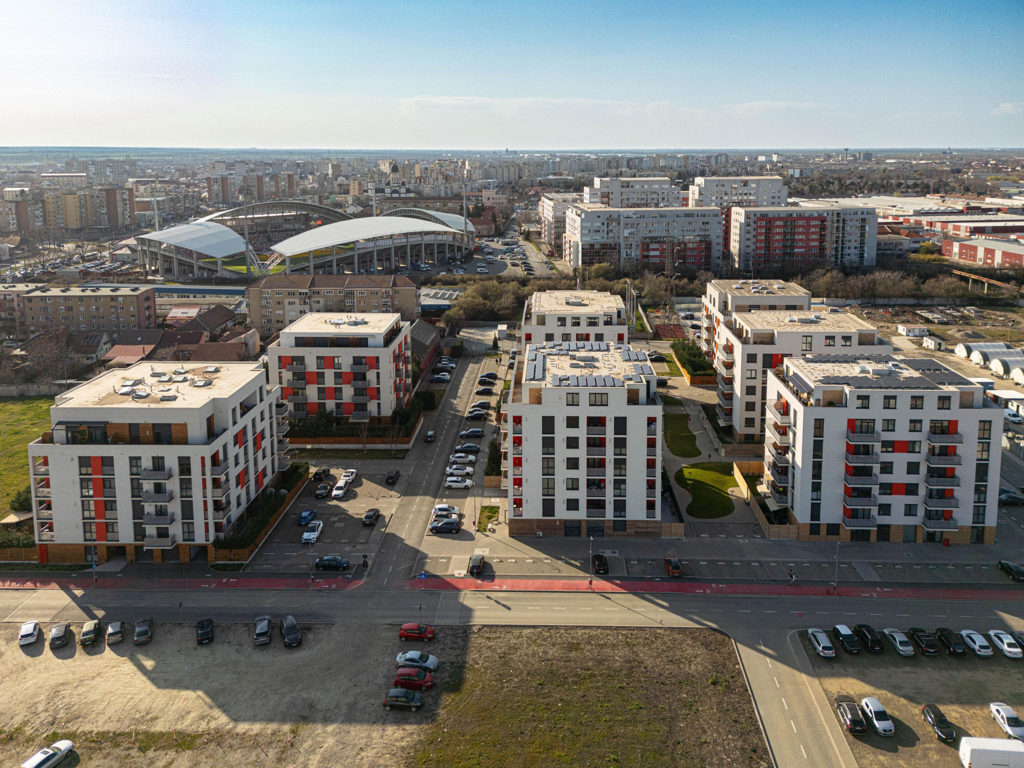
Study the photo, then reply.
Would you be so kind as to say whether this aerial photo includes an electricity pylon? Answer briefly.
Yes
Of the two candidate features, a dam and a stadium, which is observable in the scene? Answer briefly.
stadium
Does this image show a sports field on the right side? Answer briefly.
No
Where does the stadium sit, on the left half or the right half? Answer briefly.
left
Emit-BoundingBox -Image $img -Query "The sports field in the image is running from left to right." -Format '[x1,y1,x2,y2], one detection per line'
[180,244,393,271]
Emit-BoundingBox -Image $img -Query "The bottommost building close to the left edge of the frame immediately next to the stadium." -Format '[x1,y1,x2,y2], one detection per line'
[29,362,296,562]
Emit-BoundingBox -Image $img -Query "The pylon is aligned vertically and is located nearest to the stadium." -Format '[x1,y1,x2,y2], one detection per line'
[659,234,685,315]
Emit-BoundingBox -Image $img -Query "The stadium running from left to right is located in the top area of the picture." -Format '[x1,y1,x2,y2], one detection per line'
[134,202,474,278]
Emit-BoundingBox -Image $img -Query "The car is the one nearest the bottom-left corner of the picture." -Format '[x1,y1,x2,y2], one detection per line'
[17,737,81,768]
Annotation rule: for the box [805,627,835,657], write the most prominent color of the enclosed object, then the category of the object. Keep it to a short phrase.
gray car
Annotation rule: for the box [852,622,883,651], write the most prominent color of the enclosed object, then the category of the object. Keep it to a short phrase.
black car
